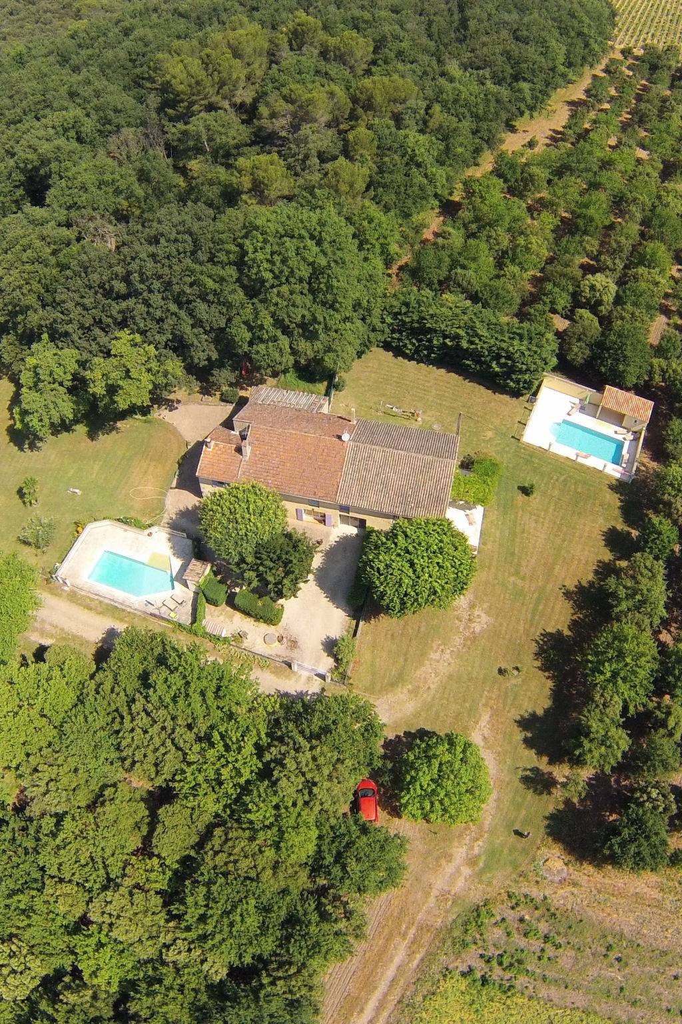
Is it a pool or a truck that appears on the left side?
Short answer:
pool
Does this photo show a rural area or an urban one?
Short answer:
rural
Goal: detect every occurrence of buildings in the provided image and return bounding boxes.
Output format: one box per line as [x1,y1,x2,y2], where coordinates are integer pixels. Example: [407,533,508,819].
[195,386,460,541]
[598,385,654,432]
[183,558,211,592]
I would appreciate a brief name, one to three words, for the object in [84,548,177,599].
swimming pool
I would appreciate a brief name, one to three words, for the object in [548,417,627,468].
swimming pool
